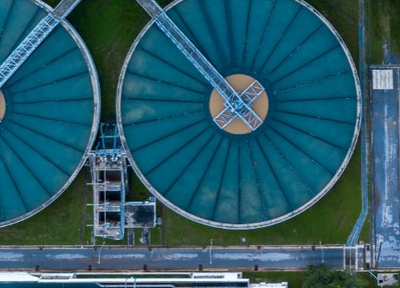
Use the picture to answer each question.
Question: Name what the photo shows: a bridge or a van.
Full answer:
Visible in the photo is a bridge.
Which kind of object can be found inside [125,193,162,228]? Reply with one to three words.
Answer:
shed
